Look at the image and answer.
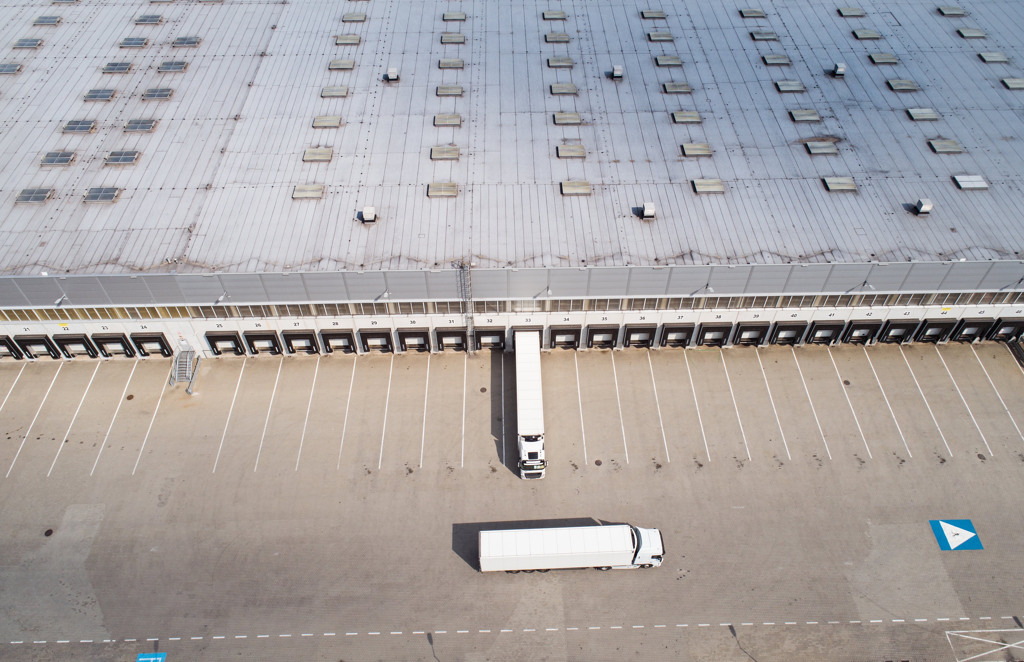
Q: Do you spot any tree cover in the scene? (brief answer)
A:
No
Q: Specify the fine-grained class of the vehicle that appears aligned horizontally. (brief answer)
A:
truck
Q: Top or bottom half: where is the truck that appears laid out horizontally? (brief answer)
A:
bottom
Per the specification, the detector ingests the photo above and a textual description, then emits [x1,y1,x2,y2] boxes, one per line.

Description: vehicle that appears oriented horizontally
[479,525,665,574]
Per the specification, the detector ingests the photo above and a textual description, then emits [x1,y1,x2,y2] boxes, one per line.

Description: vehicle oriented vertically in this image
[515,332,549,480]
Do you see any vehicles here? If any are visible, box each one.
[515,332,549,480]
[479,525,665,574]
